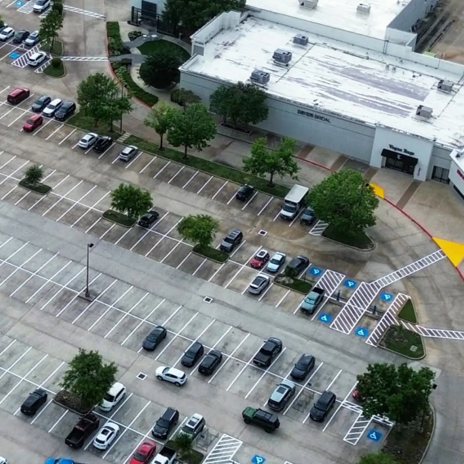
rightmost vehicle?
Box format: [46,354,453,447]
[349,383,369,413]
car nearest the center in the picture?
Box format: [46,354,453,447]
[218,226,245,253]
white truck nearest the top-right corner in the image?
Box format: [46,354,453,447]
[278,178,312,218]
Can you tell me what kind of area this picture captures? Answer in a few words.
parking lot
